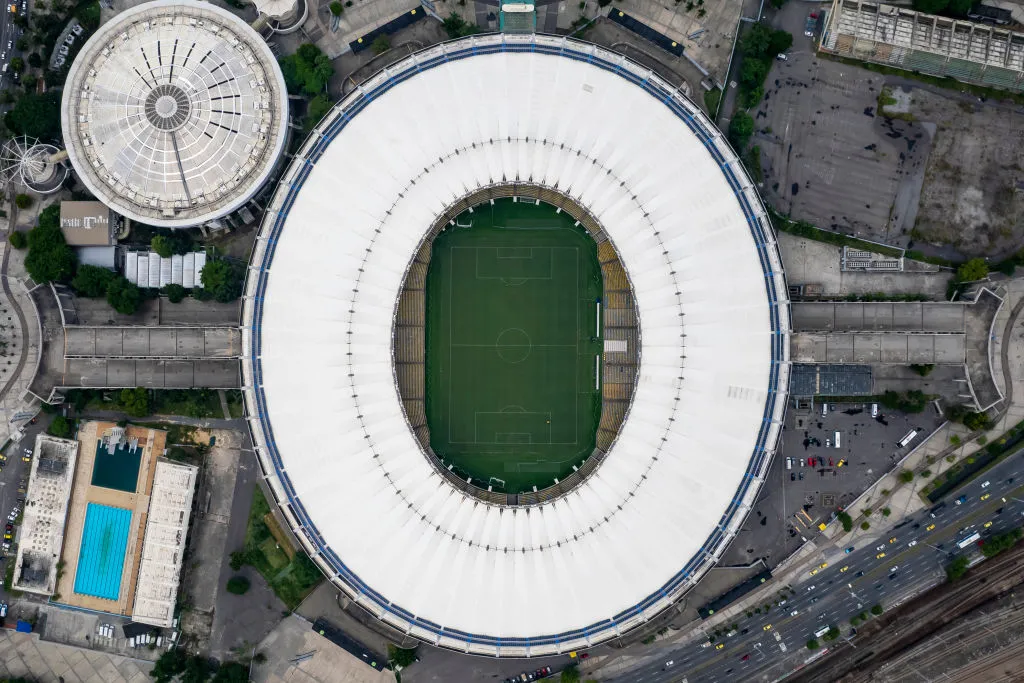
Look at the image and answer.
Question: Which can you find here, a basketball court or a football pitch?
football pitch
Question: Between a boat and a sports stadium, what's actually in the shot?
sports stadium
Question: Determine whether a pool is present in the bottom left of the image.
Yes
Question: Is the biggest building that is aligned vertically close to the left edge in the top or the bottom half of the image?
bottom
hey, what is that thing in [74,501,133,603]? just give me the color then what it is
blue swimming pool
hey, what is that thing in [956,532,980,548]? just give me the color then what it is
white vehicle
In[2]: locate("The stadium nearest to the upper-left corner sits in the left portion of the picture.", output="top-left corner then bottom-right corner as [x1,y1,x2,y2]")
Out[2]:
[62,0,306,238]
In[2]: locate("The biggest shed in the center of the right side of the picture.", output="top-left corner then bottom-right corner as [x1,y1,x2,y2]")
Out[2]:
[789,365,871,396]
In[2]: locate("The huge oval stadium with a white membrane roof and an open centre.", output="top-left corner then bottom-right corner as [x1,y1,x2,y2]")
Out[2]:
[242,34,790,657]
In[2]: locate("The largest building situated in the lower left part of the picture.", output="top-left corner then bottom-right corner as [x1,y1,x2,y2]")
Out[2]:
[12,433,84,595]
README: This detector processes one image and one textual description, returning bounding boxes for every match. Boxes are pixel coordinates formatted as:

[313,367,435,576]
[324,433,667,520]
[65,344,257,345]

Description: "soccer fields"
[426,198,603,493]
